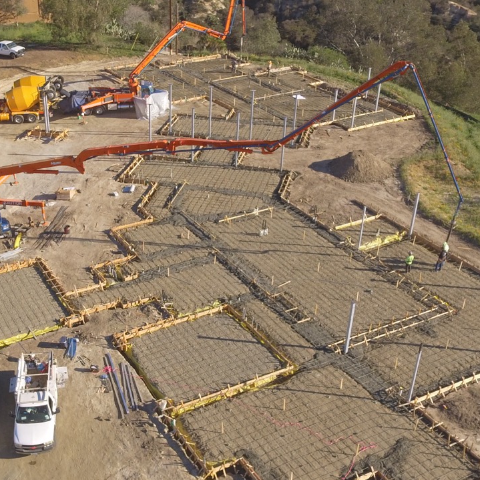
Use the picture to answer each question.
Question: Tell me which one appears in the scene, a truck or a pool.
truck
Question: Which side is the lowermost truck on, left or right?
left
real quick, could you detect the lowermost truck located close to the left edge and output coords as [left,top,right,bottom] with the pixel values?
[4,343,68,449]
